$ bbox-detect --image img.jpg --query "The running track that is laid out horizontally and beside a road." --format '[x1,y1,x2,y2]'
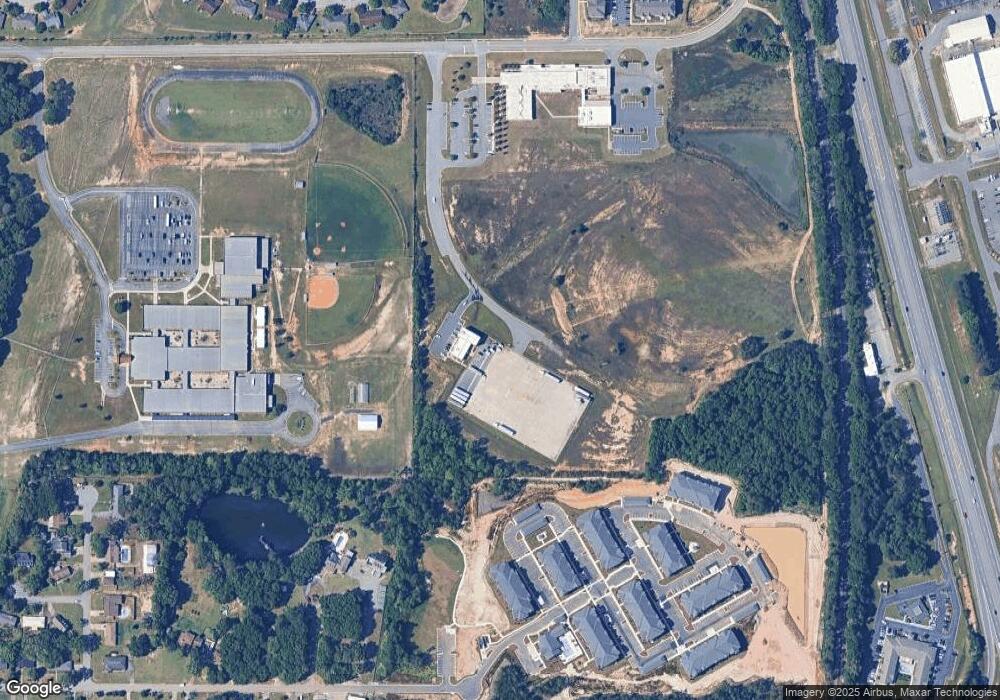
[142,69,321,153]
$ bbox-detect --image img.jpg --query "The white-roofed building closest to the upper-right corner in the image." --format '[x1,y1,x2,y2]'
[944,16,993,49]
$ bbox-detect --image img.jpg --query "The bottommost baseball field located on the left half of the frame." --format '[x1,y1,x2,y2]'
[304,272,376,346]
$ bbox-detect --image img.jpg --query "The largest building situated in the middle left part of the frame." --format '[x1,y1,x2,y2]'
[131,305,271,420]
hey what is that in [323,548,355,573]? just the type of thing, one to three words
house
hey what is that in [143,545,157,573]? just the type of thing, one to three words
shed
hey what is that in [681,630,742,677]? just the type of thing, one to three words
building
